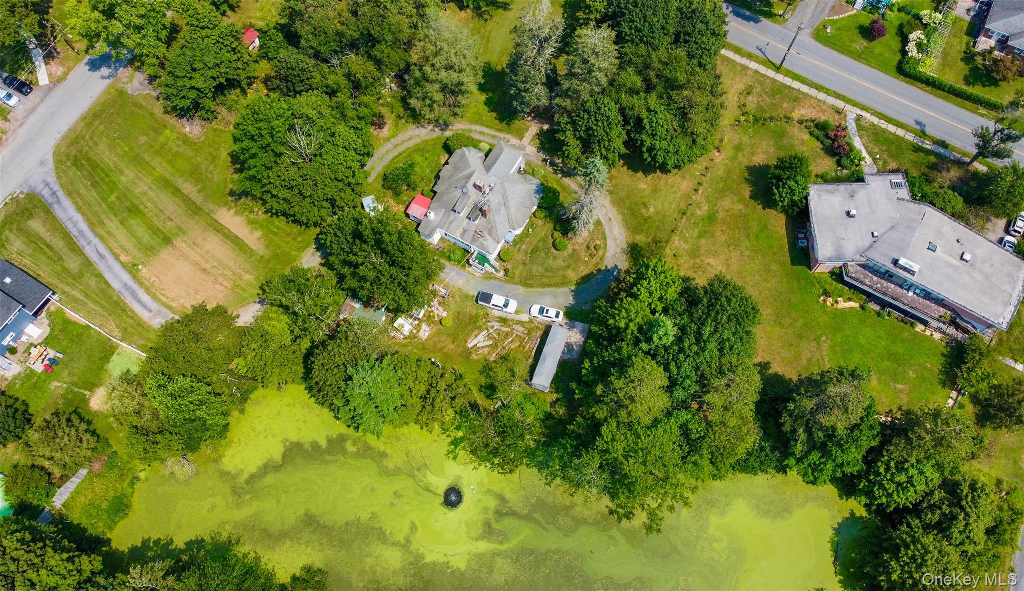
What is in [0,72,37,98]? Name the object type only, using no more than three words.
car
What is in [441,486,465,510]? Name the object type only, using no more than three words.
fountain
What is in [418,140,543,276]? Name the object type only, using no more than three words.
house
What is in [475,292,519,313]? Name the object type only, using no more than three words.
truck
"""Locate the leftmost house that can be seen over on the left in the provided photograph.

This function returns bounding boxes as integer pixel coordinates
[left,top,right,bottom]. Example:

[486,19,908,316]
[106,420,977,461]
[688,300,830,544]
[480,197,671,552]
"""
[0,256,59,372]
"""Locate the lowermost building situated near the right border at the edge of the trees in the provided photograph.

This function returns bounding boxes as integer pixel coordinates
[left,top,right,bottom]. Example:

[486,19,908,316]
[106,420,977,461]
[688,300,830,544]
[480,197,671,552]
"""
[803,172,1024,349]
